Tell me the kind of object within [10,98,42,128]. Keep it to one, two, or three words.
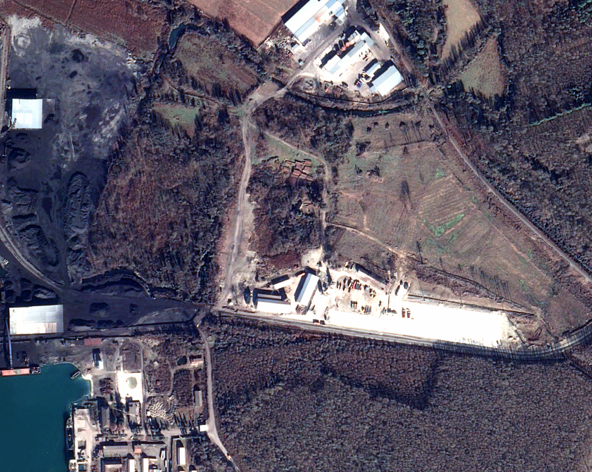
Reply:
building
